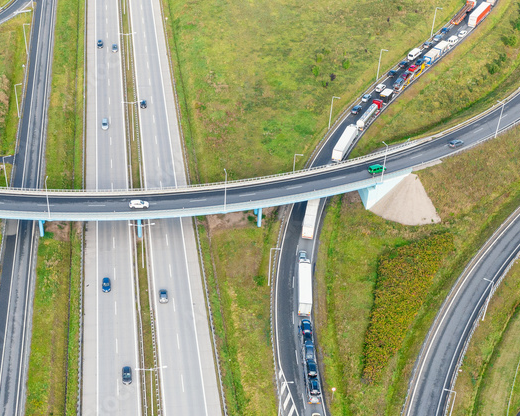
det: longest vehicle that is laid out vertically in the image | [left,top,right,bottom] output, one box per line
[298,323,323,407]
